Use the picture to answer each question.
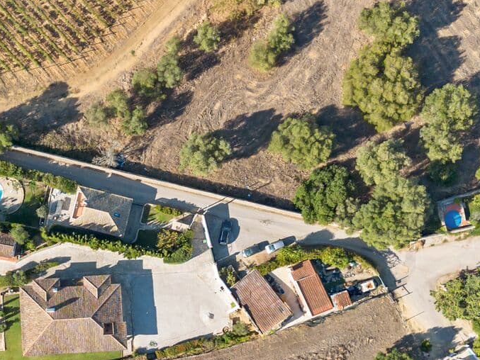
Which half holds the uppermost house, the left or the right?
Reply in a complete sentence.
It is on the left.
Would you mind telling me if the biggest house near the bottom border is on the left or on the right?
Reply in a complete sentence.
The biggest house near the bottom border sits on the left side.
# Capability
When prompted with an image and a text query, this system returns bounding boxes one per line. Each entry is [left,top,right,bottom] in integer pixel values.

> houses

[70,186,133,237]
[288,261,333,318]
[231,270,292,332]
[19,275,126,357]
[0,237,21,263]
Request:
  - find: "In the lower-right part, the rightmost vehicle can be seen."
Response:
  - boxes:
[359,279,377,292]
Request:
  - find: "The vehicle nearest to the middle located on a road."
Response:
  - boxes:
[222,220,234,244]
